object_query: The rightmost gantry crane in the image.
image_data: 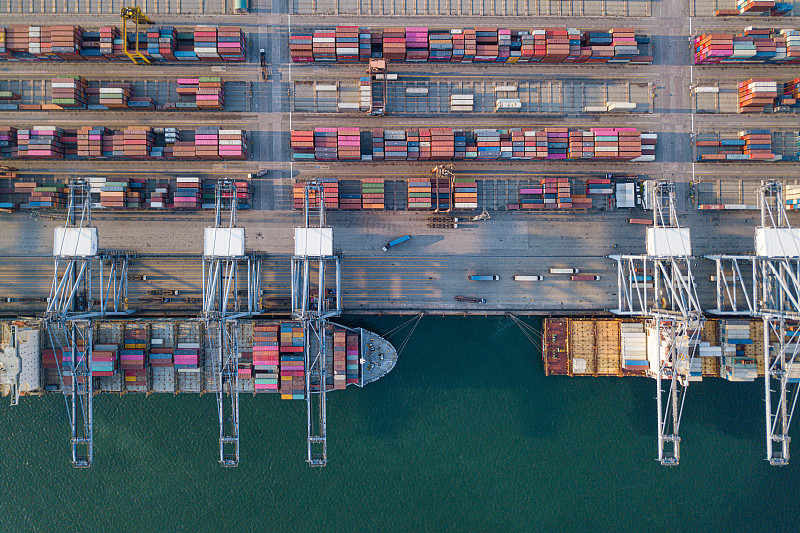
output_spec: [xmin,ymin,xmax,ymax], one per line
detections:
[700,181,800,467]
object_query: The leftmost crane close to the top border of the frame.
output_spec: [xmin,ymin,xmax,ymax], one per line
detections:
[120,5,155,66]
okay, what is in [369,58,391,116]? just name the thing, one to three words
crane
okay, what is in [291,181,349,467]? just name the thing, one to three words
container crane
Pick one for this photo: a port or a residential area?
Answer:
port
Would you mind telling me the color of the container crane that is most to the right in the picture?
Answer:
white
